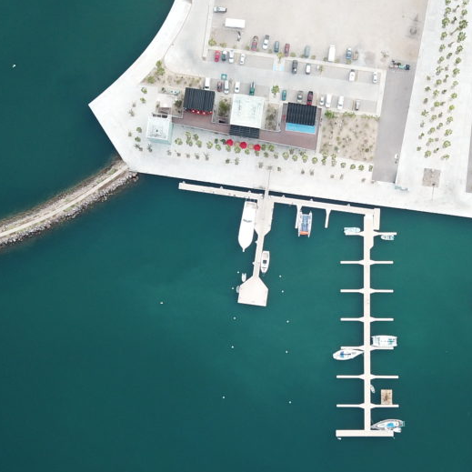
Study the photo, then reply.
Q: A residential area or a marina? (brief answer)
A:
marina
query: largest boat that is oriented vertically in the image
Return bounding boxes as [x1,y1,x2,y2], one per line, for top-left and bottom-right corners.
[239,198,258,254]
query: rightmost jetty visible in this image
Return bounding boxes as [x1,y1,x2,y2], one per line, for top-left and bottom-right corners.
[336,211,398,437]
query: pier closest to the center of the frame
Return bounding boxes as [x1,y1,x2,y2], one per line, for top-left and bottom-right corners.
[179,174,380,307]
